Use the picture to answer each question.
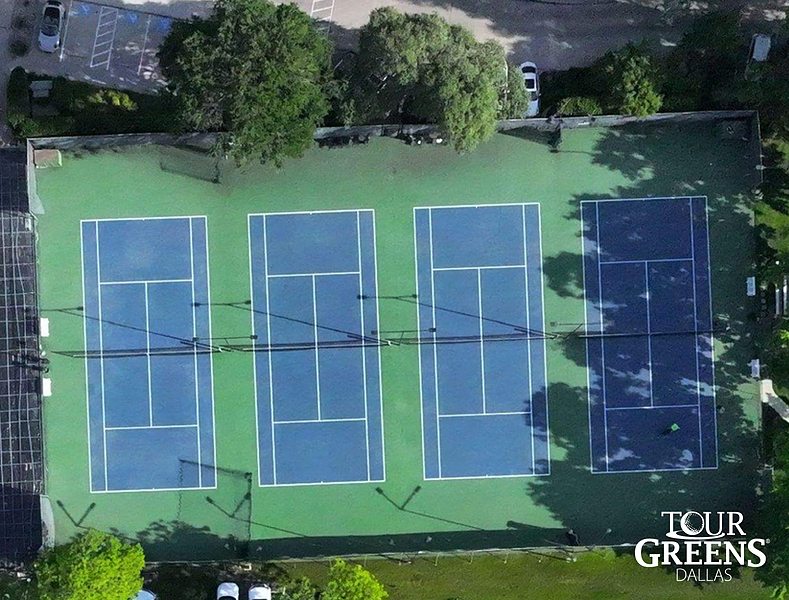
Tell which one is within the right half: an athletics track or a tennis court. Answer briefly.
tennis court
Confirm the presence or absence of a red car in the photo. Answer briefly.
No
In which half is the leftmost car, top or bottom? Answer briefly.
top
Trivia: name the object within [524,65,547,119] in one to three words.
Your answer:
car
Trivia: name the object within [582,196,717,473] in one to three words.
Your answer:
tennis court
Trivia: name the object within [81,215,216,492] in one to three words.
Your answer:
tennis court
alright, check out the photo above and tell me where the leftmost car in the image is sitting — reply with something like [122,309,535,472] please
[37,0,65,54]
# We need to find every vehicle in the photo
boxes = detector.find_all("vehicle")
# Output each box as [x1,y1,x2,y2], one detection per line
[250,583,272,600]
[524,65,547,119]
[37,0,65,54]
[216,582,241,600]
[745,32,772,81]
